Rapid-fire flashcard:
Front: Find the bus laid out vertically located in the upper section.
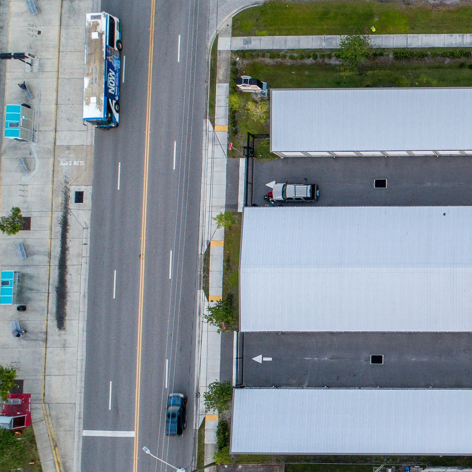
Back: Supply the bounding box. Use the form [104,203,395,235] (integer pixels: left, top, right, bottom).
[82,12,122,129]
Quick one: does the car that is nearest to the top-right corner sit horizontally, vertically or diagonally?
horizontally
